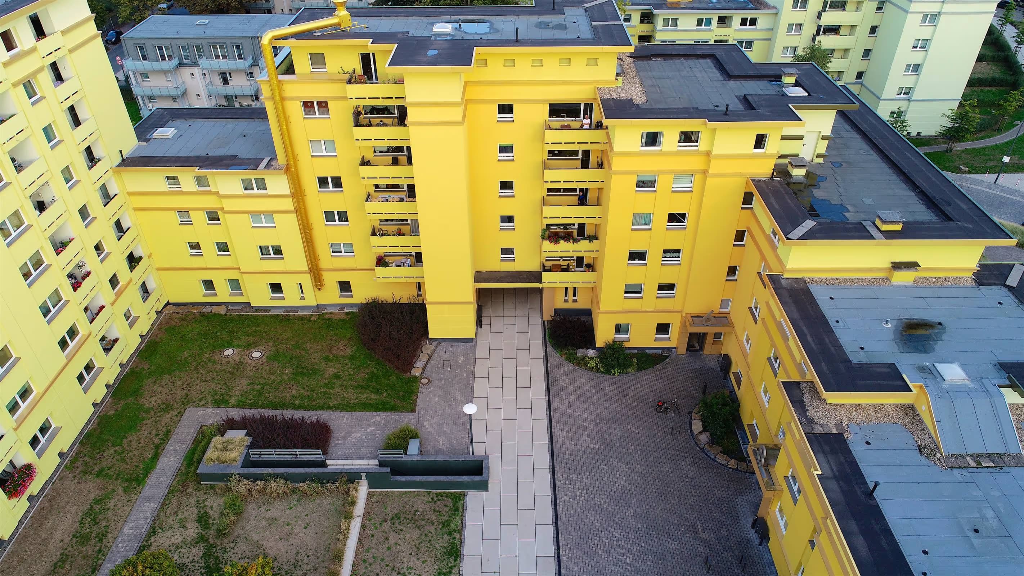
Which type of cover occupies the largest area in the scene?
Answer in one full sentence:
For the most part, this view shows buildings.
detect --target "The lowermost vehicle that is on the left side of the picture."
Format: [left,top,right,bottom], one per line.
[104,27,121,40]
